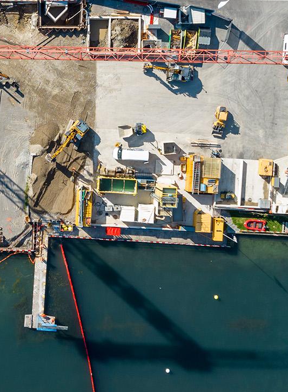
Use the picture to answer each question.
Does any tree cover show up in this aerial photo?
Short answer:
No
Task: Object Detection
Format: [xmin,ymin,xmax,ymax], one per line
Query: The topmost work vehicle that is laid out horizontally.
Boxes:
[143,66,193,84]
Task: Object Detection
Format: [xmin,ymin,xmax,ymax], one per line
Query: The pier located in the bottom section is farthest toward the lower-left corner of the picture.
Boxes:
[24,234,55,329]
